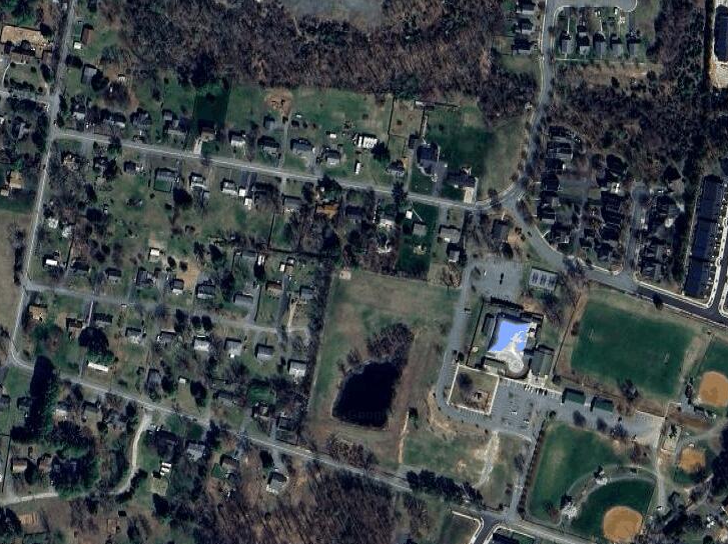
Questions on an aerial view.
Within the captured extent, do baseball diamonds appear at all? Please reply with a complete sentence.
Yes, looking at the shot, I can spot a baseball diamond.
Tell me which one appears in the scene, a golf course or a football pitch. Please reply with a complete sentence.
This aerial view contains a football pitch.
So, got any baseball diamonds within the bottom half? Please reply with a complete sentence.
Yes, a baseball diamond can be seen within the bottom half.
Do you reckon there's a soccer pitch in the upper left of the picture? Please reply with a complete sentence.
No, I see no soccer pitch in the upper left of the picture.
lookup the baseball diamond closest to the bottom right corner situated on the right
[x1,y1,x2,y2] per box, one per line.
[676,445,707,484]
